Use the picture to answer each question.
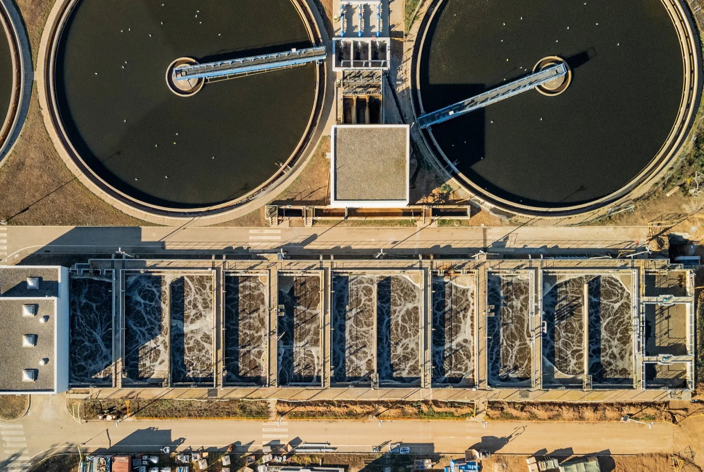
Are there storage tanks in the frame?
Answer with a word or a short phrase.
Yes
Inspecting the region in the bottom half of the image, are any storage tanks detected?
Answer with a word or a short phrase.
Yes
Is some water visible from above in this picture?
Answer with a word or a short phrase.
Yes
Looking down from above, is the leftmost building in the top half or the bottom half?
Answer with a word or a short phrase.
bottom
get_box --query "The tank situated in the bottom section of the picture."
[68,252,698,400]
